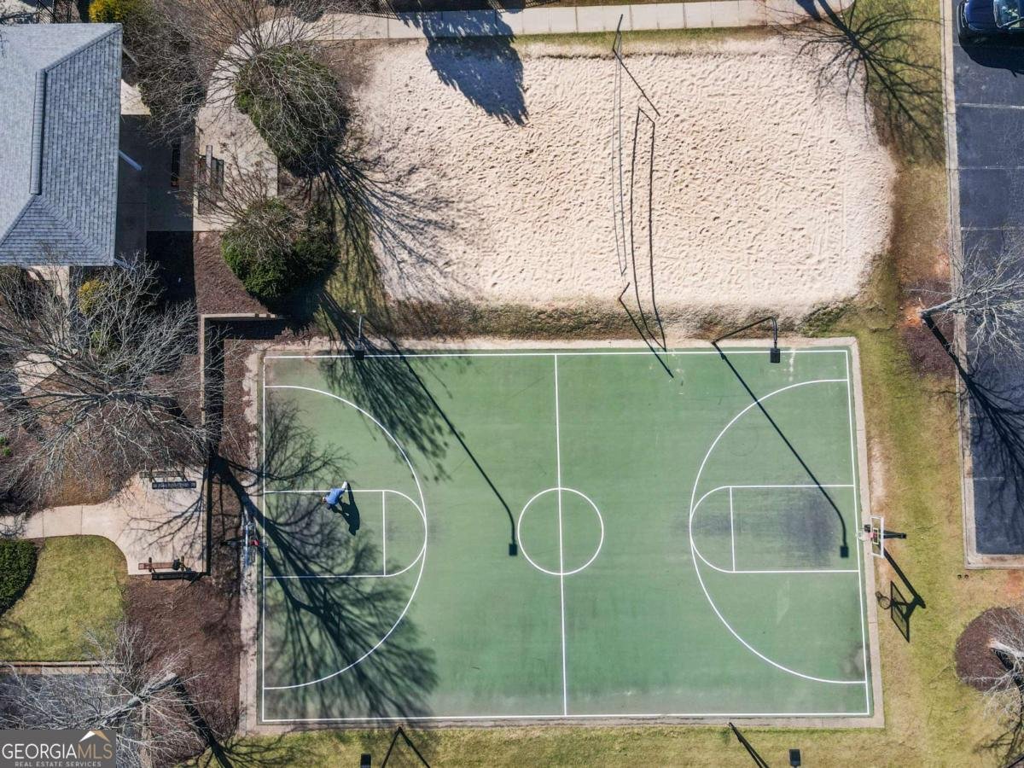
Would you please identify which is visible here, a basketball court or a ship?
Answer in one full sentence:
Of the two, only a basketball court appears.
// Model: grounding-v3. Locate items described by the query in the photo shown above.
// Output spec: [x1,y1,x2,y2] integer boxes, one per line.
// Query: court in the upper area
[360,40,899,323]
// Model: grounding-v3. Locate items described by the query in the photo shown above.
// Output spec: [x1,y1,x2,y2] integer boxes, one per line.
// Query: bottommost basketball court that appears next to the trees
[240,337,884,733]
